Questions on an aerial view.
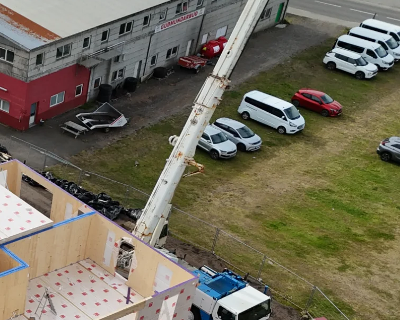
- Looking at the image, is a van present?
Yes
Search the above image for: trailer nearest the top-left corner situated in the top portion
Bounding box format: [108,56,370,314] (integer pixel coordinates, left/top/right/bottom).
[74,93,125,130]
